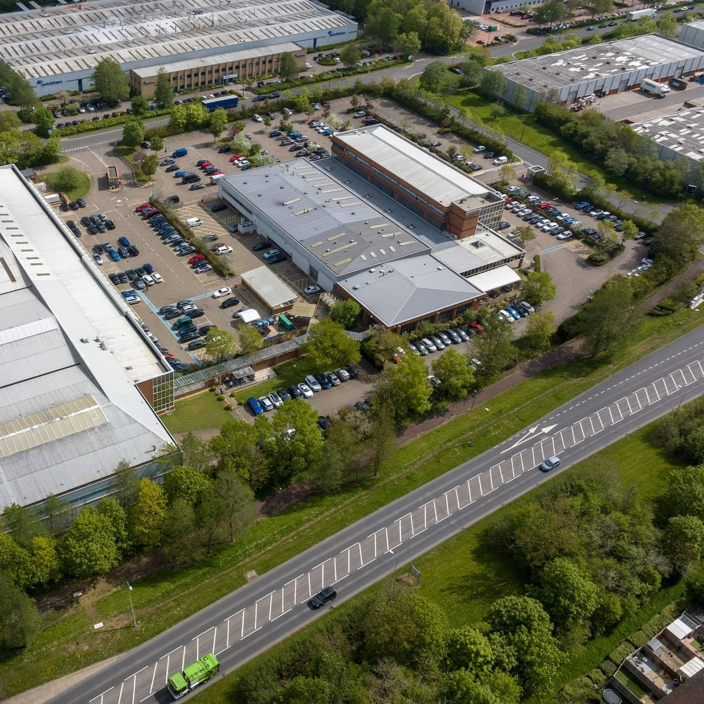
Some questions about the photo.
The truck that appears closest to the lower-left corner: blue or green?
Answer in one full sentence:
From above, the truck that appears closest to the lower-left corner appears green.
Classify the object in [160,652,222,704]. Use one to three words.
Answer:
truck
